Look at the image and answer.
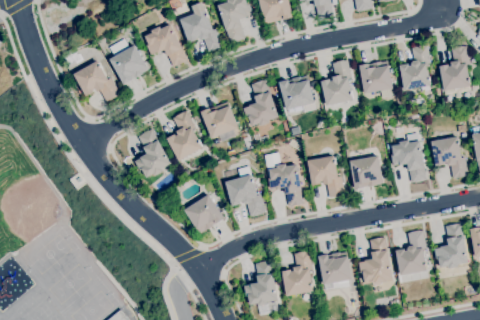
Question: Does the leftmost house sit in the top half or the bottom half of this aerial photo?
top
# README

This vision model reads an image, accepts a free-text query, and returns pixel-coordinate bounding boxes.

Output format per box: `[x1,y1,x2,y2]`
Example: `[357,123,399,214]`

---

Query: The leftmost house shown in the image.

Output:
[72,62,117,102]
